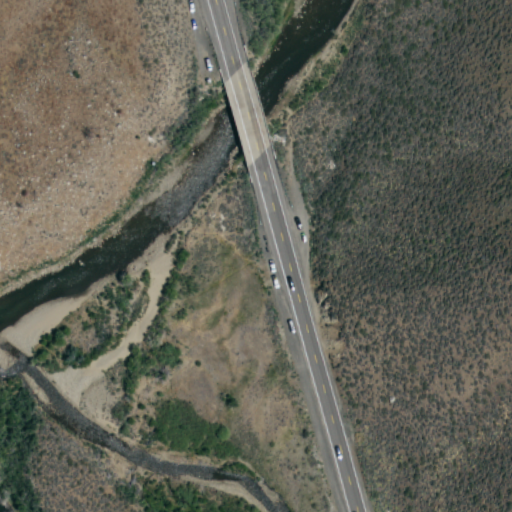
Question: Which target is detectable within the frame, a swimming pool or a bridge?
bridge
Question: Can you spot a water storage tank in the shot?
No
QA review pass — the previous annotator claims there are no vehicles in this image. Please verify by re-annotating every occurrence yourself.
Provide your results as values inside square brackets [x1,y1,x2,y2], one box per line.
[192,18,198,30]
[206,58,214,72]
[270,259,278,274]
[289,320,296,334]
[294,216,302,230]
[301,232,308,245]
[190,0,196,14]
[335,447,342,460]
[288,278,296,291]
[274,275,282,290]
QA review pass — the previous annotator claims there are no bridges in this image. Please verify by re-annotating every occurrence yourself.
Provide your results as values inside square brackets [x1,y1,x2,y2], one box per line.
[223,56,272,170]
